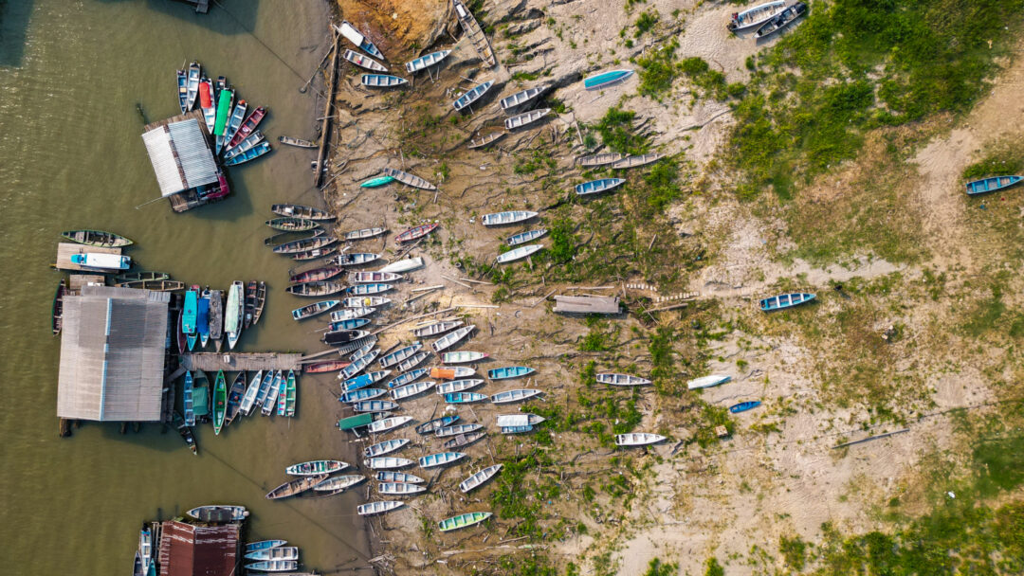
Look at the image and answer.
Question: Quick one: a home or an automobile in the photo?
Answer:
home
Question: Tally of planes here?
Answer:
none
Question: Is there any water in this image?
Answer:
Yes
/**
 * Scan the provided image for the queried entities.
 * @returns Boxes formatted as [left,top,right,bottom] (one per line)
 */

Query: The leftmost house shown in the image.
[57,286,181,437]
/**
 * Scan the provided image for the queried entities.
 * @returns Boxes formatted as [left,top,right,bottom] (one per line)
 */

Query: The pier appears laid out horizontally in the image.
[180,353,302,371]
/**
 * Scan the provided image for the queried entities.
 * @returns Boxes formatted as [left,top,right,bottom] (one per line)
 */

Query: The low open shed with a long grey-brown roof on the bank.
[552,297,624,313]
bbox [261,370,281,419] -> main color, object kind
white boat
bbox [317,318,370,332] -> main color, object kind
blue boat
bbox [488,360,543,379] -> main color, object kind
blue boat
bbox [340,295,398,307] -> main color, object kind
white boat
